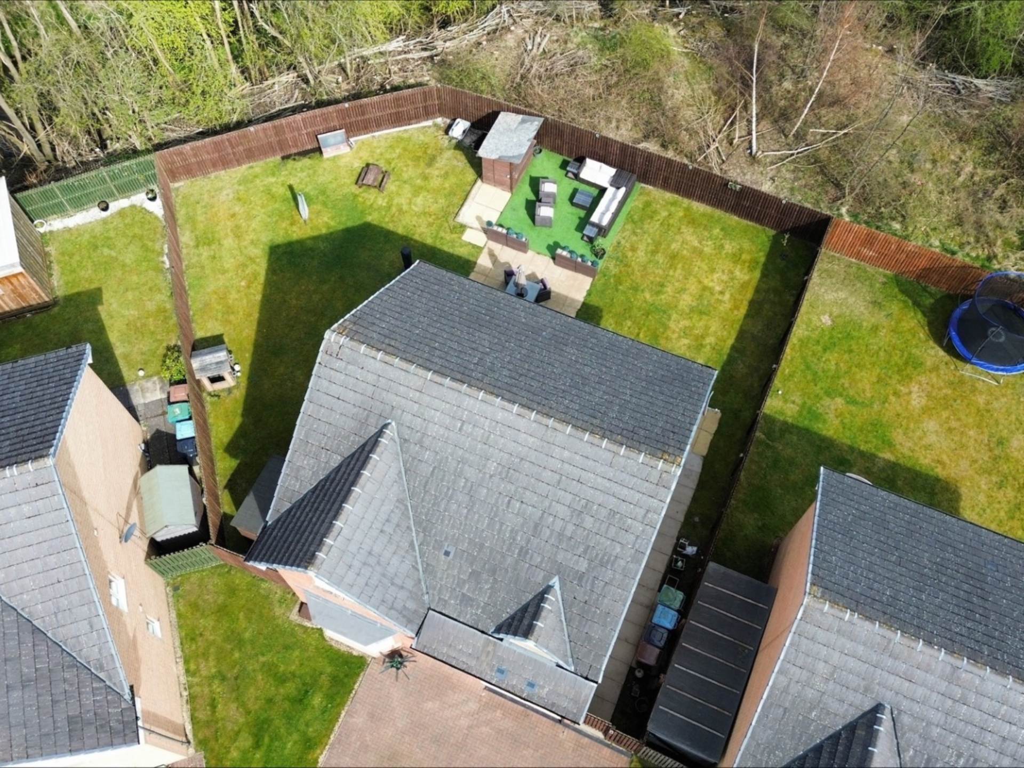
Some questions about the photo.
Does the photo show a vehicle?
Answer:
No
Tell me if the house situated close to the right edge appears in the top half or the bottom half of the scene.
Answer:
bottom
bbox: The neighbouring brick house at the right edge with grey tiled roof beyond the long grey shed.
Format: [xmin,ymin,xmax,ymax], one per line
[721,465,1024,768]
